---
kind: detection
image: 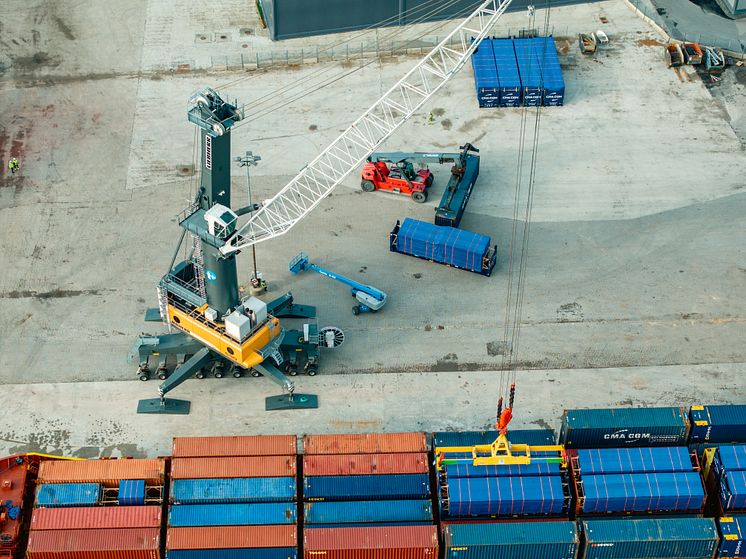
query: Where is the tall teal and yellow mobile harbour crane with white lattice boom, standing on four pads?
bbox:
[122,0,545,413]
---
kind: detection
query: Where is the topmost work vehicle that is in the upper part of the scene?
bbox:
[357,144,479,217]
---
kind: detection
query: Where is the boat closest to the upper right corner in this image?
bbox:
[597,26,610,42]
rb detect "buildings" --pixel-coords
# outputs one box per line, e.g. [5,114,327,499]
[715,0,746,20]
[261,0,602,40]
